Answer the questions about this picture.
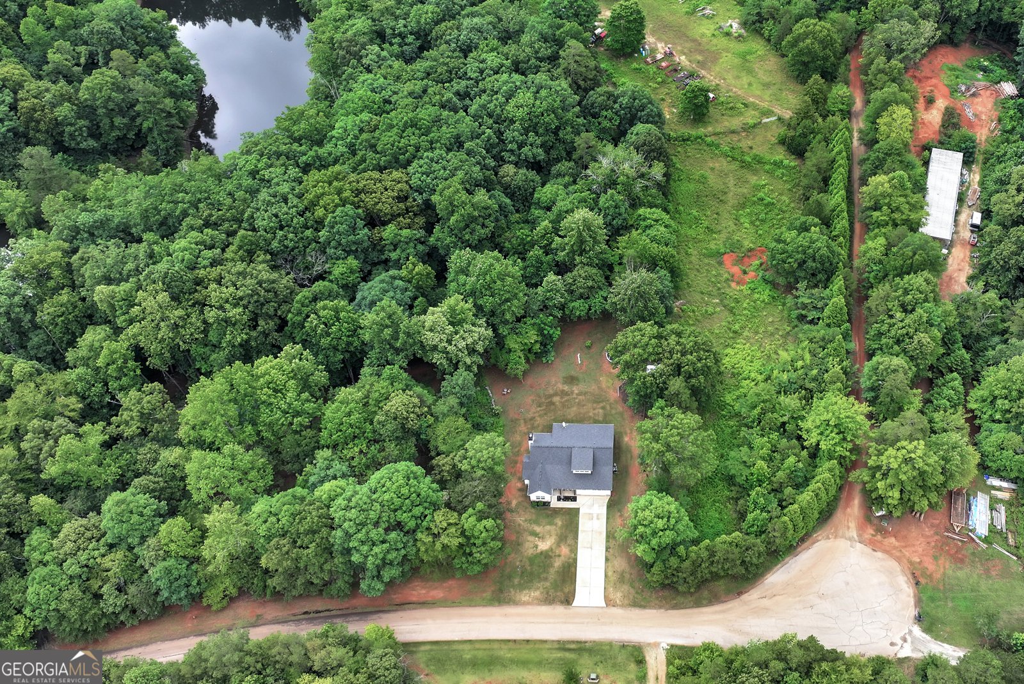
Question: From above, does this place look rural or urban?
rural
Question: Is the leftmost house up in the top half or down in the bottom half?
bottom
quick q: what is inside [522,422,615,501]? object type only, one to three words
house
